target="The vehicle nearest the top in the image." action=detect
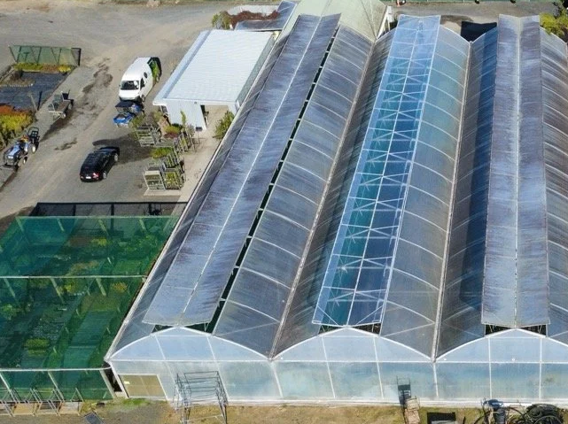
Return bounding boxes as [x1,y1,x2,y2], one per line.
[118,53,159,101]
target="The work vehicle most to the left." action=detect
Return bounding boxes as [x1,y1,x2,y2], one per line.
[0,128,34,173]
